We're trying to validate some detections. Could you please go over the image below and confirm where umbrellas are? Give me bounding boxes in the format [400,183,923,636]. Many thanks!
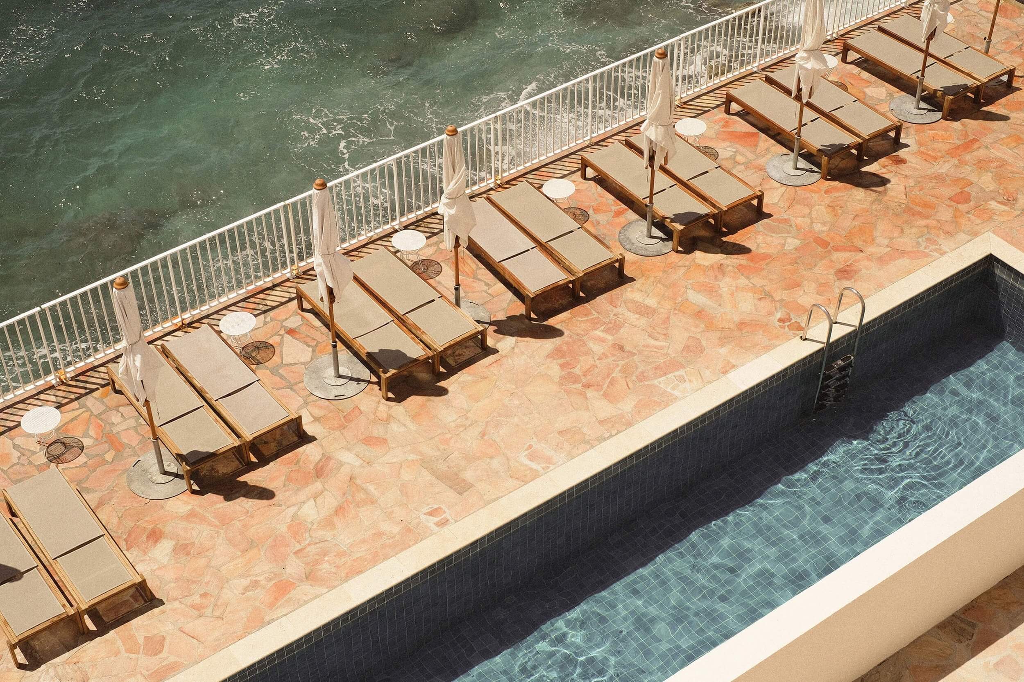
[622,49,676,254]
[892,0,954,124]
[769,0,830,185]
[115,277,192,498]
[307,179,366,398]
[436,125,488,338]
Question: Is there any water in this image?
Yes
